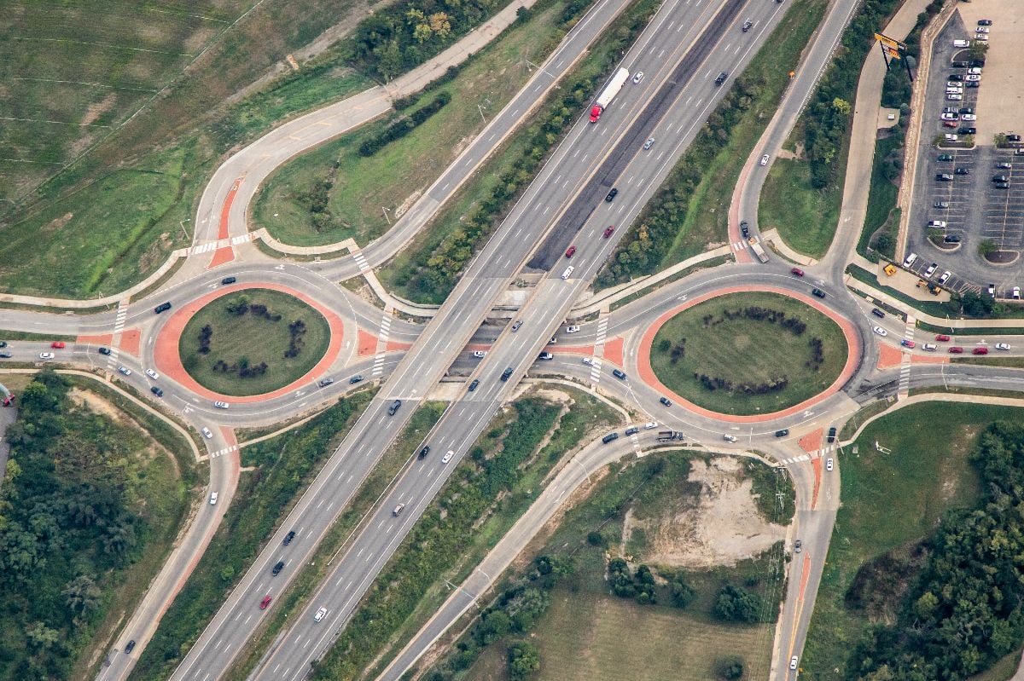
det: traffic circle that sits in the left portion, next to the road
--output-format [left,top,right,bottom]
[139,260,357,429]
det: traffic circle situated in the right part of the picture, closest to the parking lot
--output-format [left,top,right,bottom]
[624,262,877,445]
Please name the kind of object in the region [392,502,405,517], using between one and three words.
vehicle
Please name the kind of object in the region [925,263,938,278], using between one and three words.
vehicle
